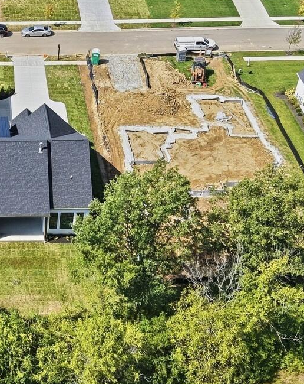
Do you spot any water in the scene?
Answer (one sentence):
No, the picture contains no water.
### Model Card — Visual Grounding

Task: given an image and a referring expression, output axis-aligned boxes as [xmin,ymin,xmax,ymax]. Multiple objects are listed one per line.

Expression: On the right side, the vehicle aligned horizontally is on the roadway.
[176,36,218,50]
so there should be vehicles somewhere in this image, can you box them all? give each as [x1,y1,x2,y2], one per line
[176,36,218,50]
[190,57,211,88]
[22,25,54,38]
[0,23,9,37]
